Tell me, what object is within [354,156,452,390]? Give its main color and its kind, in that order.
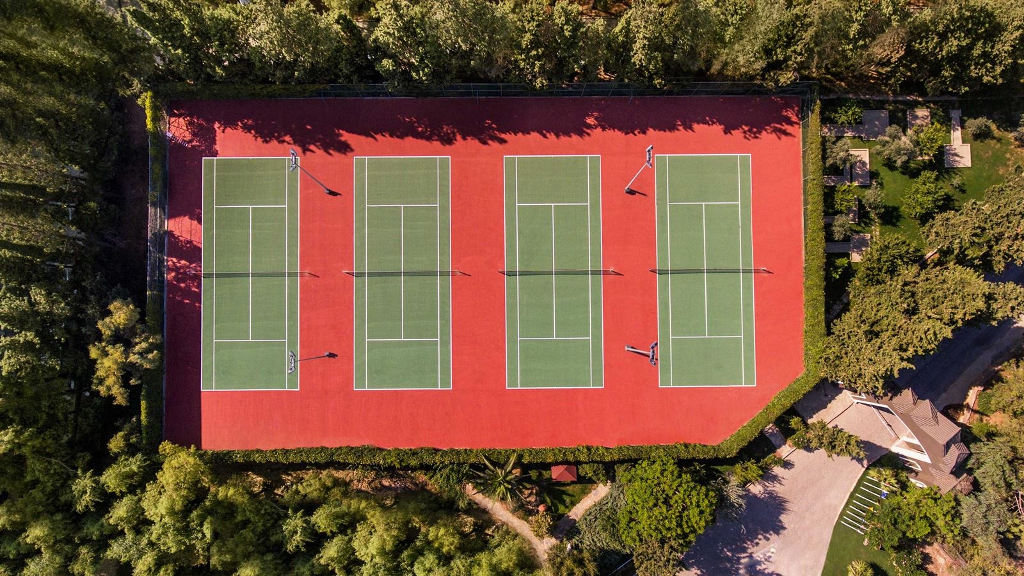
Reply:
green tennis court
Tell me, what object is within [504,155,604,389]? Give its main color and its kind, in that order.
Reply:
green tennis court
